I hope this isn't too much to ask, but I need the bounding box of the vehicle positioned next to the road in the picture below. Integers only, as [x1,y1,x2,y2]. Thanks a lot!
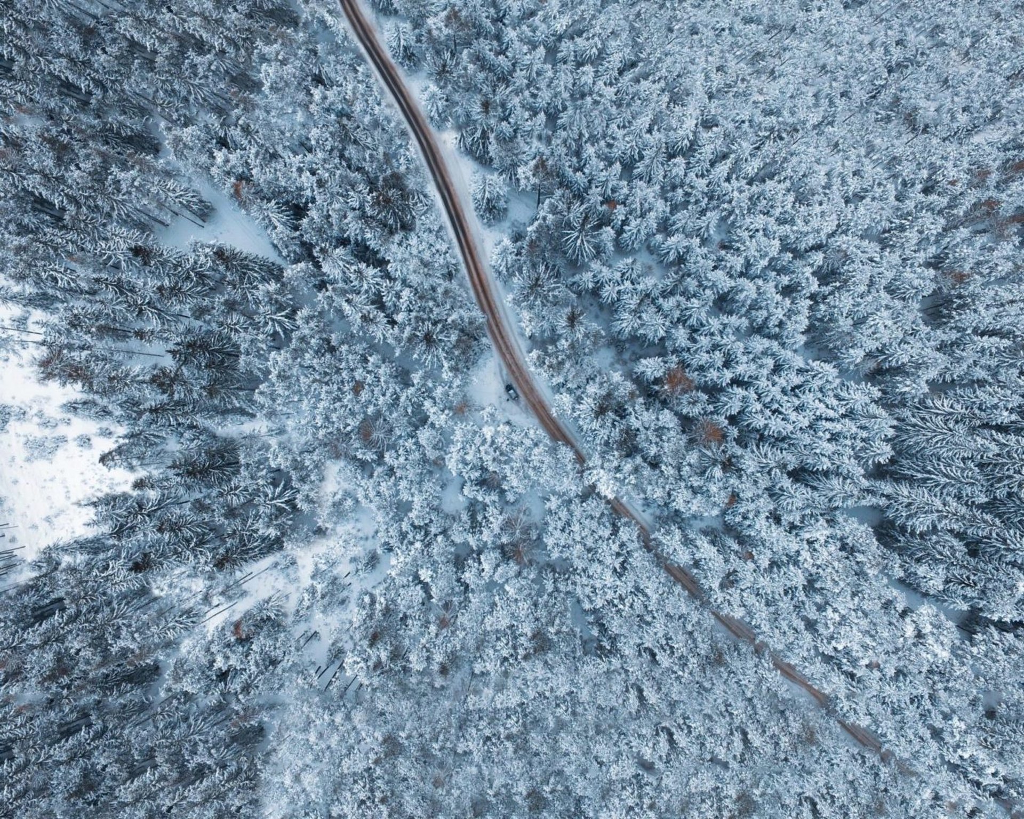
[506,383,519,402]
